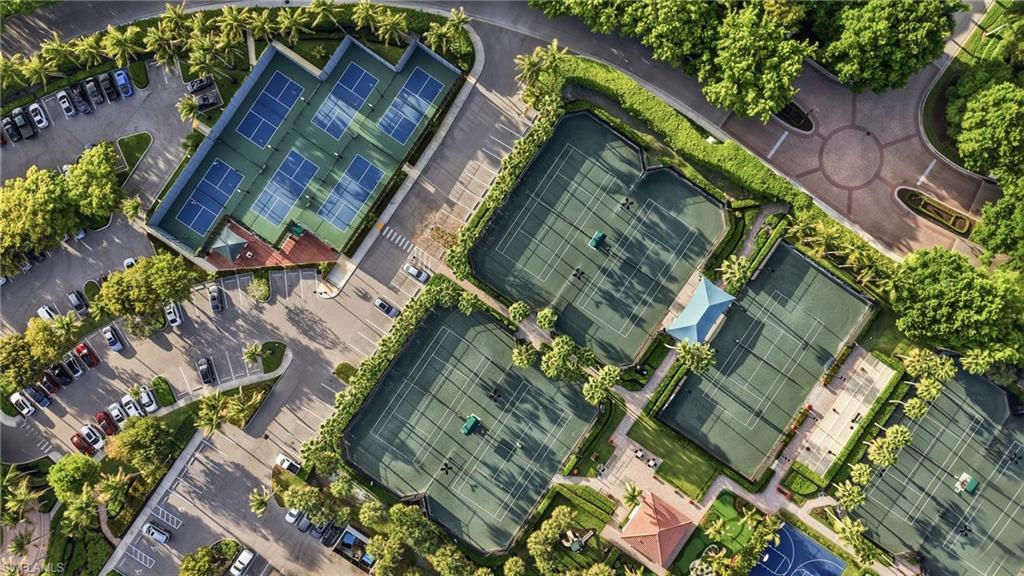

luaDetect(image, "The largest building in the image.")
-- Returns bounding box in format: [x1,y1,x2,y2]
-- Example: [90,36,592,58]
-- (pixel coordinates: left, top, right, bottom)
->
[620,491,696,568]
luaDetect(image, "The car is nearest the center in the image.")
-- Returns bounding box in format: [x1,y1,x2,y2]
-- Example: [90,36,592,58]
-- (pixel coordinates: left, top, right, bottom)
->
[403,263,429,281]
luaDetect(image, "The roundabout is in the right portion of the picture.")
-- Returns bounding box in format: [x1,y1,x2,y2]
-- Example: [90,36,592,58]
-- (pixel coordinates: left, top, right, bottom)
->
[800,91,910,215]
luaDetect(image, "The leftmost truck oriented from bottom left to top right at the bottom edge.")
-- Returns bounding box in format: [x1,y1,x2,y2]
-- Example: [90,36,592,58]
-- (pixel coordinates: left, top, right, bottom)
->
[228,549,253,576]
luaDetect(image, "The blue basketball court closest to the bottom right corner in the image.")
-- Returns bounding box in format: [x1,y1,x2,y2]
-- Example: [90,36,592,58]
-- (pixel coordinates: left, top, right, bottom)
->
[734,510,848,576]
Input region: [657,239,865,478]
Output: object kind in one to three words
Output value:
tennis court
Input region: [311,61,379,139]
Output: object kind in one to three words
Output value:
sports court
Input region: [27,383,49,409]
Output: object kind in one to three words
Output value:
car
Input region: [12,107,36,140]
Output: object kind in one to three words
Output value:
truck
